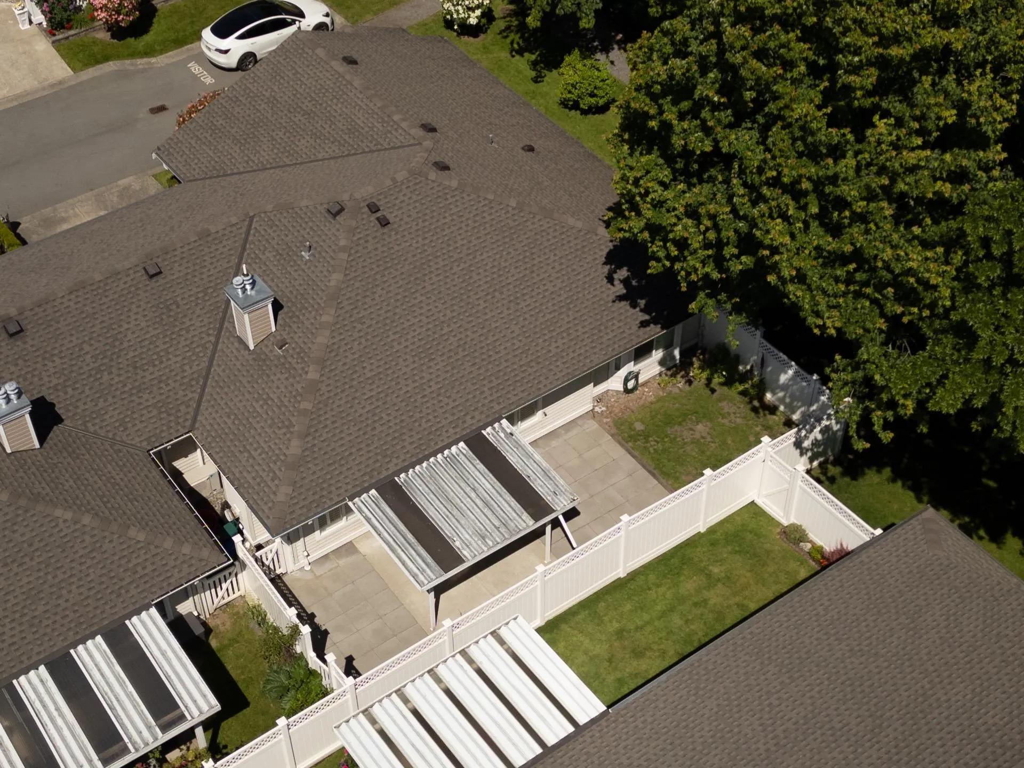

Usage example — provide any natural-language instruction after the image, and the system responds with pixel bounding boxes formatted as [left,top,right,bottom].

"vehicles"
[197,0,335,72]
